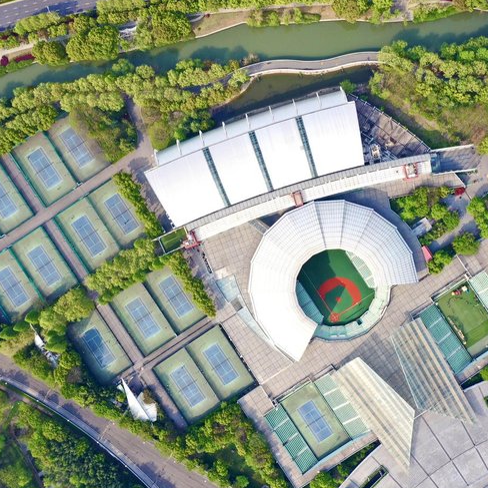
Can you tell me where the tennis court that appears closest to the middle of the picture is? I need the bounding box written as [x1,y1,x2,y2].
[144,262,207,334]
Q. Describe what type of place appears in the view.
sports ground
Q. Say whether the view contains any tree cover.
Yes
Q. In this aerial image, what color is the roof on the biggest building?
white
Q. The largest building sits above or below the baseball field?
above it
